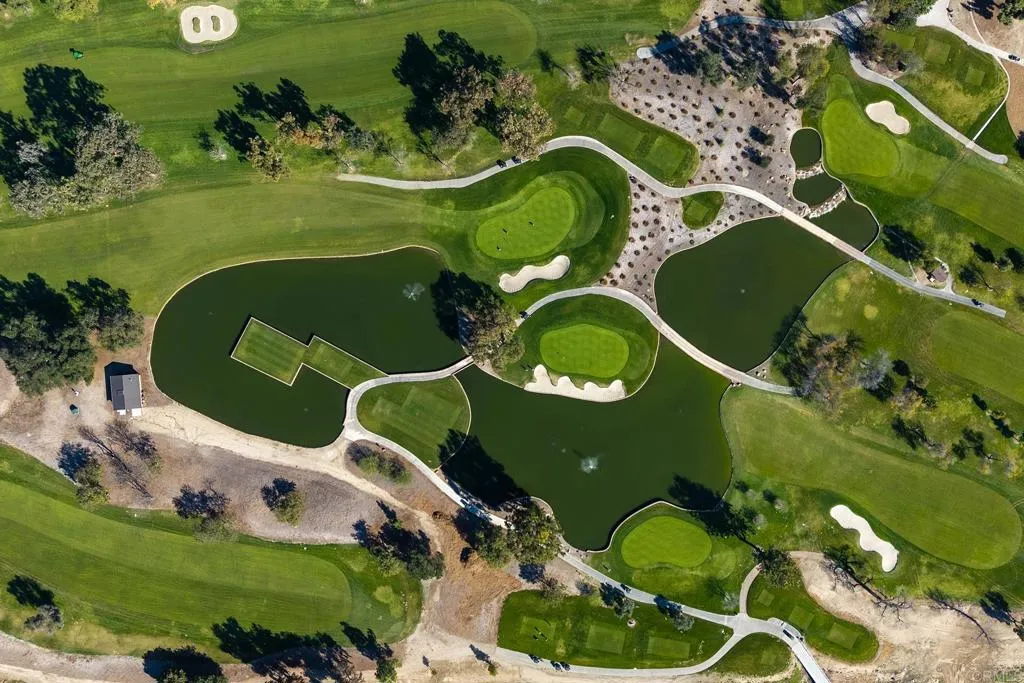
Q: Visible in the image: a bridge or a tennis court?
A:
bridge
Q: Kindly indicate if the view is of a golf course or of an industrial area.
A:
golf course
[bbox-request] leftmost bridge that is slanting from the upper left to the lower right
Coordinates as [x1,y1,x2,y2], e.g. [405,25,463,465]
[651,314,740,382]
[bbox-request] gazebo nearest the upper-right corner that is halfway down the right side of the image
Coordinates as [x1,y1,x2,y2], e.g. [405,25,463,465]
[936,267,953,283]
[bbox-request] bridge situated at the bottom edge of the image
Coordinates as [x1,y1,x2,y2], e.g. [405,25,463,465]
[793,640,836,683]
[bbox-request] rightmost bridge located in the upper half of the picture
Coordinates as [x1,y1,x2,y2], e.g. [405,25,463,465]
[778,204,872,265]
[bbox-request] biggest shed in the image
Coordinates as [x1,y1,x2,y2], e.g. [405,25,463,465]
[109,374,145,416]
